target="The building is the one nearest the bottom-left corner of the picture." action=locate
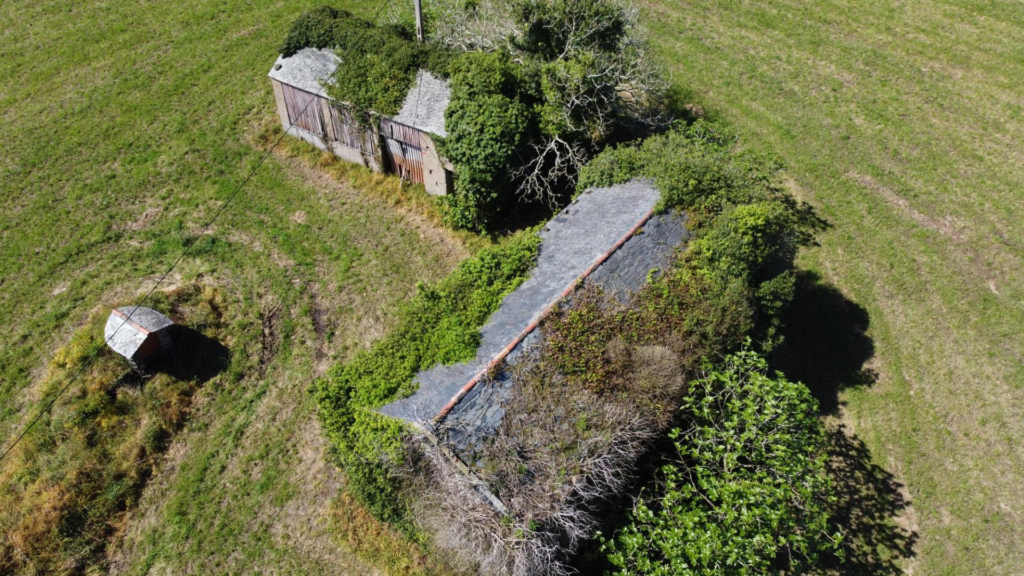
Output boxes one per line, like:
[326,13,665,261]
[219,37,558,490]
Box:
[103,309,189,385]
